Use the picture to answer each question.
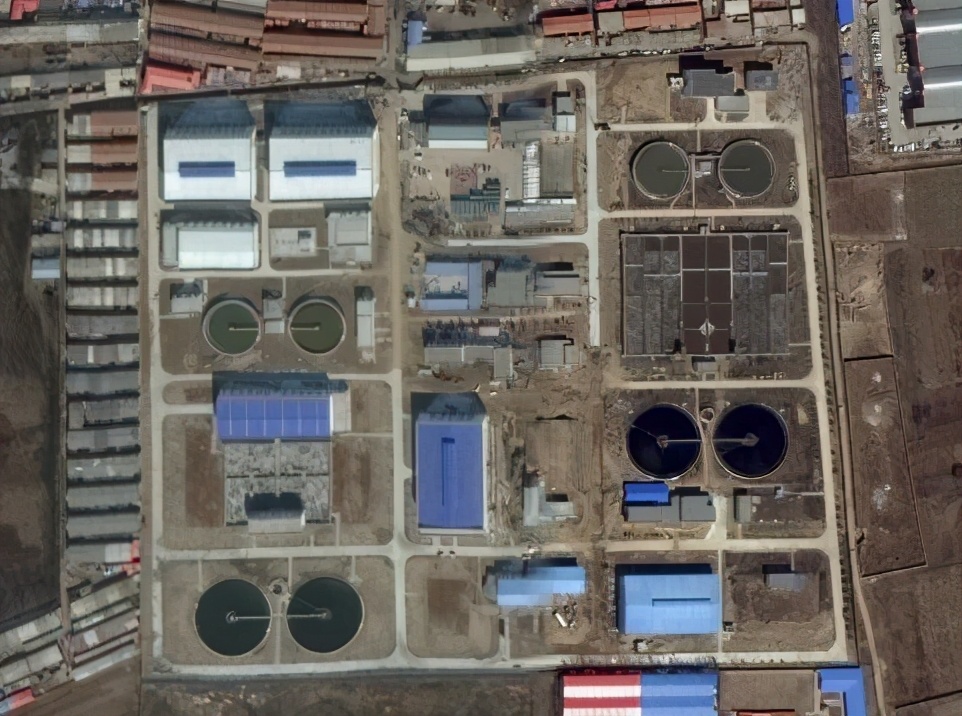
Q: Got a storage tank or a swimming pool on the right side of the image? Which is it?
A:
storage tank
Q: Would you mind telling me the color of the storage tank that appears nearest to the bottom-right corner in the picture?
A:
black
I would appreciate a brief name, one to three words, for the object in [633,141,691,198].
storage tank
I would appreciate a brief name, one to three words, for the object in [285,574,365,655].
storage tank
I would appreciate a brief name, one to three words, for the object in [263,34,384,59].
building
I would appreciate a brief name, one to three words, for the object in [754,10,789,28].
house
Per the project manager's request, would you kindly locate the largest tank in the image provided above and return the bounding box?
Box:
[225,439,333,524]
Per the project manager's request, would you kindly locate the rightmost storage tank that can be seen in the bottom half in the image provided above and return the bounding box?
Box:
[710,400,789,480]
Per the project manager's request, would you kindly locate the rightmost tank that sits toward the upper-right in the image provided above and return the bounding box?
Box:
[719,141,775,196]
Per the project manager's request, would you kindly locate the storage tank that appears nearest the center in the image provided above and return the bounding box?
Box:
[287,298,347,355]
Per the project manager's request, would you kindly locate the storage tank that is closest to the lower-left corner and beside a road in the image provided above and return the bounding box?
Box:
[194,577,273,658]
